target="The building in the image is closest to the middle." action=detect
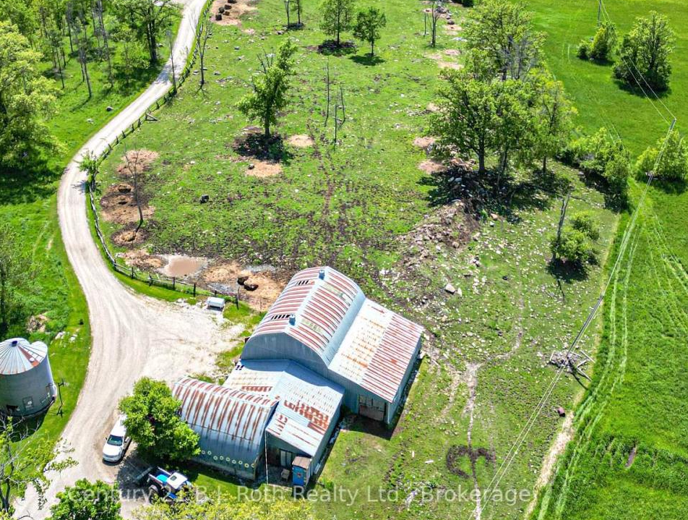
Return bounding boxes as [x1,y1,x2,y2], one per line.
[240,265,423,426]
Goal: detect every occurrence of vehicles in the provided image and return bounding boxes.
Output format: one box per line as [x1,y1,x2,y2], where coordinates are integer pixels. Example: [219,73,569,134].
[140,468,198,511]
[104,416,133,457]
